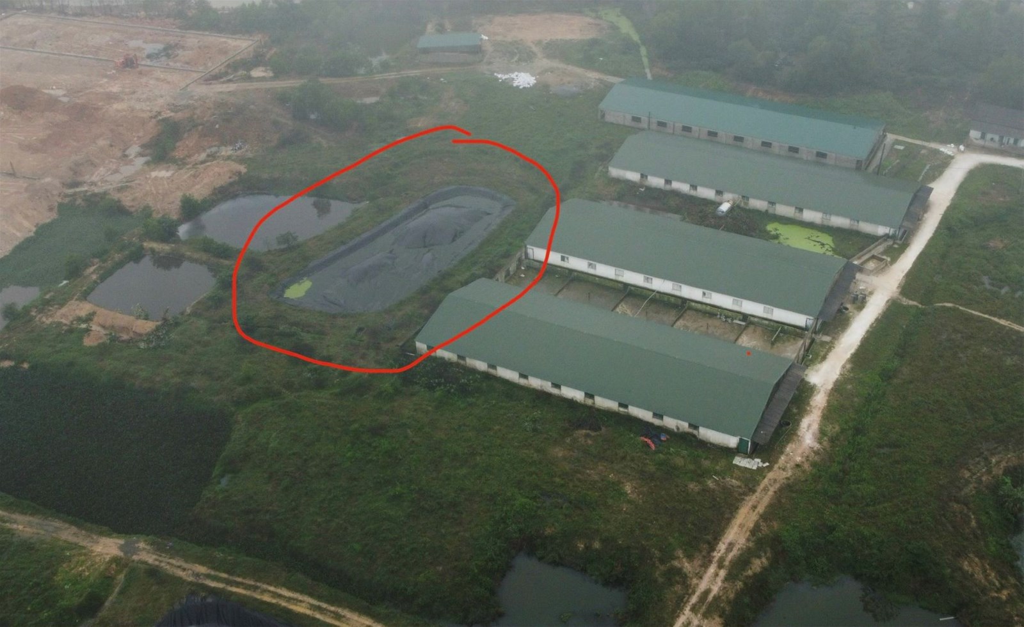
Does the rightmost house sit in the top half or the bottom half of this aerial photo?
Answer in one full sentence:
It is in the top half that the rightmost house appears.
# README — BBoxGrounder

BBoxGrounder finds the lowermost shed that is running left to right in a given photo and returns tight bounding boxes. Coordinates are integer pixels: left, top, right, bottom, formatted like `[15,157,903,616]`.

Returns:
[414,277,806,455]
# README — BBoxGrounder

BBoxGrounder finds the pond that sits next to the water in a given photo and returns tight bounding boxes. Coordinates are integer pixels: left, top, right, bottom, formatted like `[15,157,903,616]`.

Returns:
[274,184,518,315]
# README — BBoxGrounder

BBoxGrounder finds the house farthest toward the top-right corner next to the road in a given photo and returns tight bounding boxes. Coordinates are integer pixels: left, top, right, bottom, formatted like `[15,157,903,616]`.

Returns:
[968,110,1024,158]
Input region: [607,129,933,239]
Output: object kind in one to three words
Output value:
shed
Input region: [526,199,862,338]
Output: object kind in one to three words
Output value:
shed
